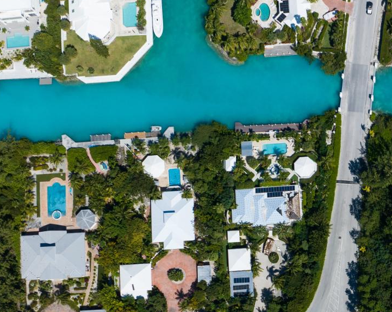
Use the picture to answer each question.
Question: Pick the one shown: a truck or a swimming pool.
swimming pool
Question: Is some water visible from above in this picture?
Yes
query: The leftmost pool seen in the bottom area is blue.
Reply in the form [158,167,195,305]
[47,181,67,220]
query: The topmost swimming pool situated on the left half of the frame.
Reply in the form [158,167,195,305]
[122,1,137,27]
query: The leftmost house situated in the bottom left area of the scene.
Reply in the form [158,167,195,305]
[20,230,89,280]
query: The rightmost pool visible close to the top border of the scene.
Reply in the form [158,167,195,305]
[255,2,271,21]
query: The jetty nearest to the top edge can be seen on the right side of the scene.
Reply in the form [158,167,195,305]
[265,44,297,56]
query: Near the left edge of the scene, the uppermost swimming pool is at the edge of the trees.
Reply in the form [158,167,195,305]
[6,32,30,49]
